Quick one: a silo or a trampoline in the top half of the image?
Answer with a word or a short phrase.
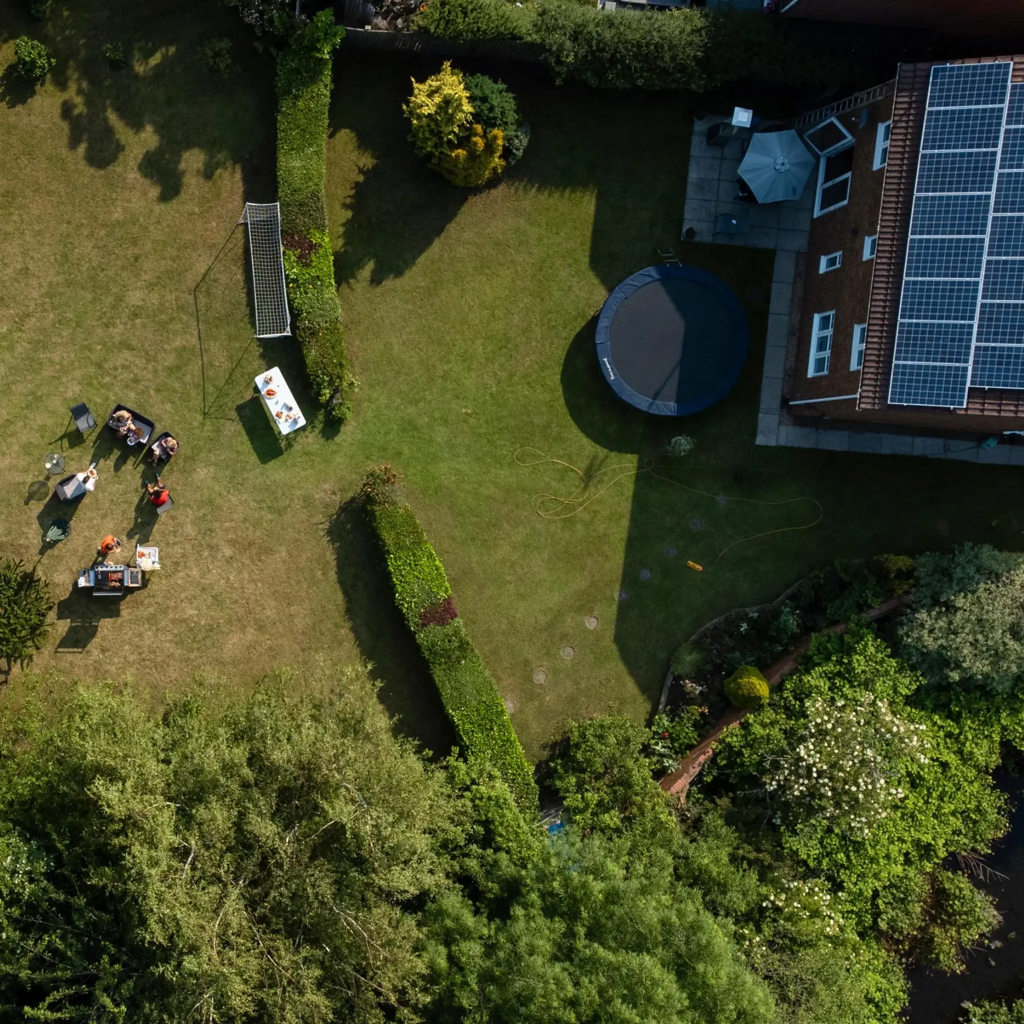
trampoline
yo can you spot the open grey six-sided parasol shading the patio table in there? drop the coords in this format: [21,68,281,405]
[737,129,815,204]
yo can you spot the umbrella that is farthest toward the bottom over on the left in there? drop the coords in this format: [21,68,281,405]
[44,512,73,540]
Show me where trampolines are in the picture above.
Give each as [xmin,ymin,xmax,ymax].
[595,254,748,417]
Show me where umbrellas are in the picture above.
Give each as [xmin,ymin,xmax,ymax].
[44,512,73,540]
[737,129,815,204]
